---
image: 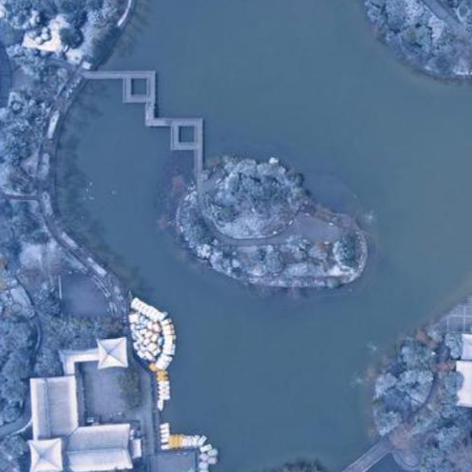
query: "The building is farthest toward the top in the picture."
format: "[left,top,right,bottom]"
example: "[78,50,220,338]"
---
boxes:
[95,338,131,371]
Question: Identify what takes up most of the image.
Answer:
water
